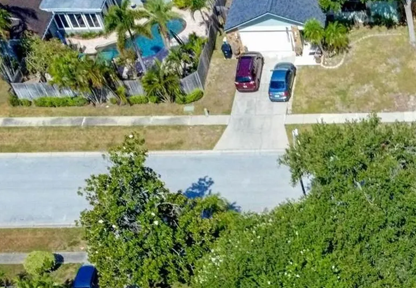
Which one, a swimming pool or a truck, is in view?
swimming pool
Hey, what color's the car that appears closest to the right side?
blue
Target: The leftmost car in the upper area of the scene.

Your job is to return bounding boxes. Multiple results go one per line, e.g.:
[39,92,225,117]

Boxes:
[235,54,264,89]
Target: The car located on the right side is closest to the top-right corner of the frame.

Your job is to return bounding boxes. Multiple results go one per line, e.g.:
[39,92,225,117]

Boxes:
[268,64,296,99]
